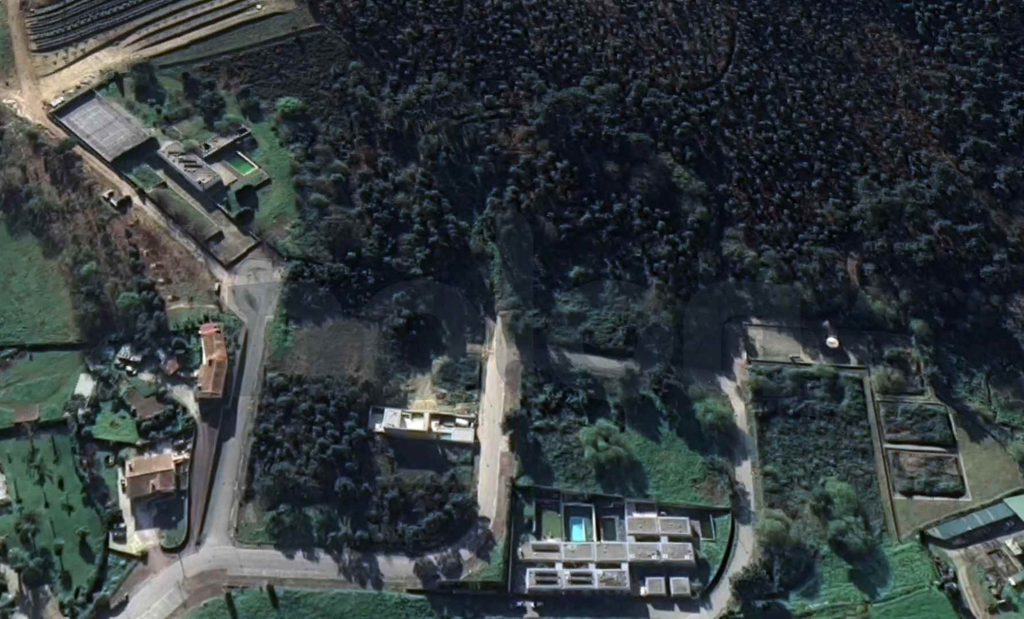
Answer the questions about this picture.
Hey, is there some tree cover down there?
Yes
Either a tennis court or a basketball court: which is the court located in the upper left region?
tennis court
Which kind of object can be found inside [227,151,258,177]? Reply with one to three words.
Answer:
swimming pool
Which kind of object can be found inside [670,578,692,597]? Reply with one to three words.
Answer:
building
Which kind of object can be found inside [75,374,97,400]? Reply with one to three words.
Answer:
shed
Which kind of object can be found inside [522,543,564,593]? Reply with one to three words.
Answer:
house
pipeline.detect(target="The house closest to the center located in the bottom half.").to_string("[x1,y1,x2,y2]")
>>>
[368,407,477,447]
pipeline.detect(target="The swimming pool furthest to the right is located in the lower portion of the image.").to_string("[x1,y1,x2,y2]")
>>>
[569,516,587,543]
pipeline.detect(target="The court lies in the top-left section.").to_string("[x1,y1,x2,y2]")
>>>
[57,92,151,164]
